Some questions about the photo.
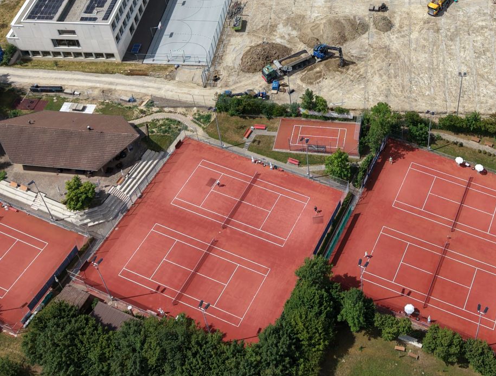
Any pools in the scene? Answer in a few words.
No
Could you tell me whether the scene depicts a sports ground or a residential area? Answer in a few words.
sports ground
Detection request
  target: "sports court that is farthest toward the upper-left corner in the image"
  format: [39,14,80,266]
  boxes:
[143,0,226,65]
